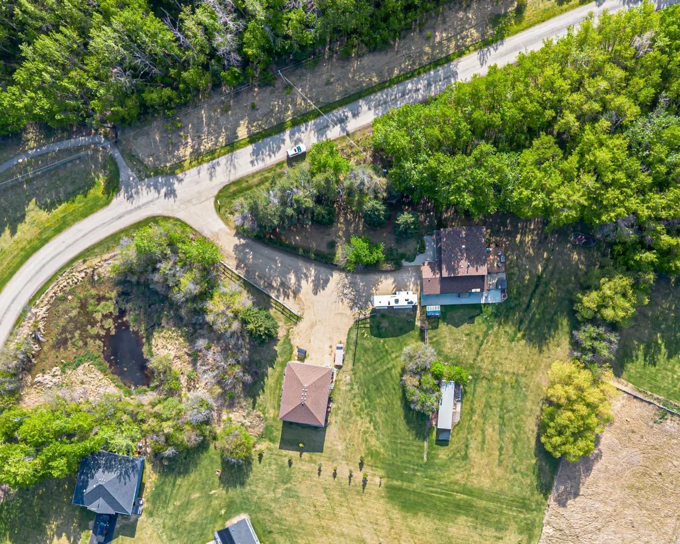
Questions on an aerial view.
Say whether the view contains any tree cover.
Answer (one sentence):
Yes, the picture does contain tree cover.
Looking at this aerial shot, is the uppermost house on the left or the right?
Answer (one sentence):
You can find the uppermost house on the right side of the picture.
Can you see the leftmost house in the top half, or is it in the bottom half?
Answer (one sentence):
You can find the leftmost house in the bottom half.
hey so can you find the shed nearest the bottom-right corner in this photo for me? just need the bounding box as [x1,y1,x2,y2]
[437,381,454,440]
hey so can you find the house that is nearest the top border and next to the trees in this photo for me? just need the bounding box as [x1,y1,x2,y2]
[421,227,505,306]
